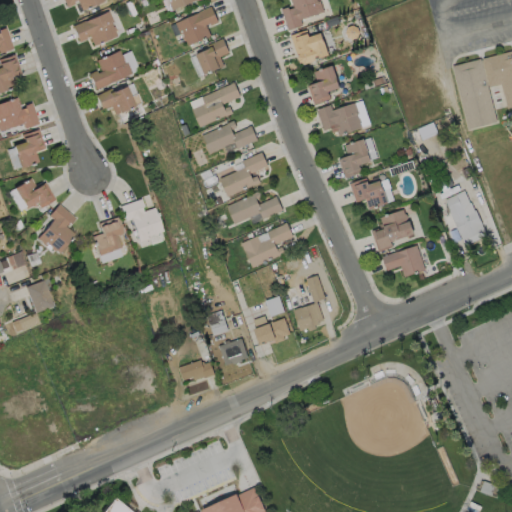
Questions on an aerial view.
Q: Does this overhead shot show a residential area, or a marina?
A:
residential area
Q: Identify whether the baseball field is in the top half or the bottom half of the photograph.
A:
bottom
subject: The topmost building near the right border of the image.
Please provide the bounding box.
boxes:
[454,52,512,128]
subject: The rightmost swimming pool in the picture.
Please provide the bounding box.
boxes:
[398,172,416,198]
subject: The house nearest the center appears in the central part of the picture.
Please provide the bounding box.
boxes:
[242,224,293,268]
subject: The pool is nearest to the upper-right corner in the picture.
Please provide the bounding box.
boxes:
[352,54,376,68]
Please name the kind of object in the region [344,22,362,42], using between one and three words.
gazebo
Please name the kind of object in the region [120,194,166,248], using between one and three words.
building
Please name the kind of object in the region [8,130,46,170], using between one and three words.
house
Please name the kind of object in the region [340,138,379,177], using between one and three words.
house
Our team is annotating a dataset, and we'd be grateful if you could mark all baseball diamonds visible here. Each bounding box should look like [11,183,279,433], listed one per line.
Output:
[282,378,460,512]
